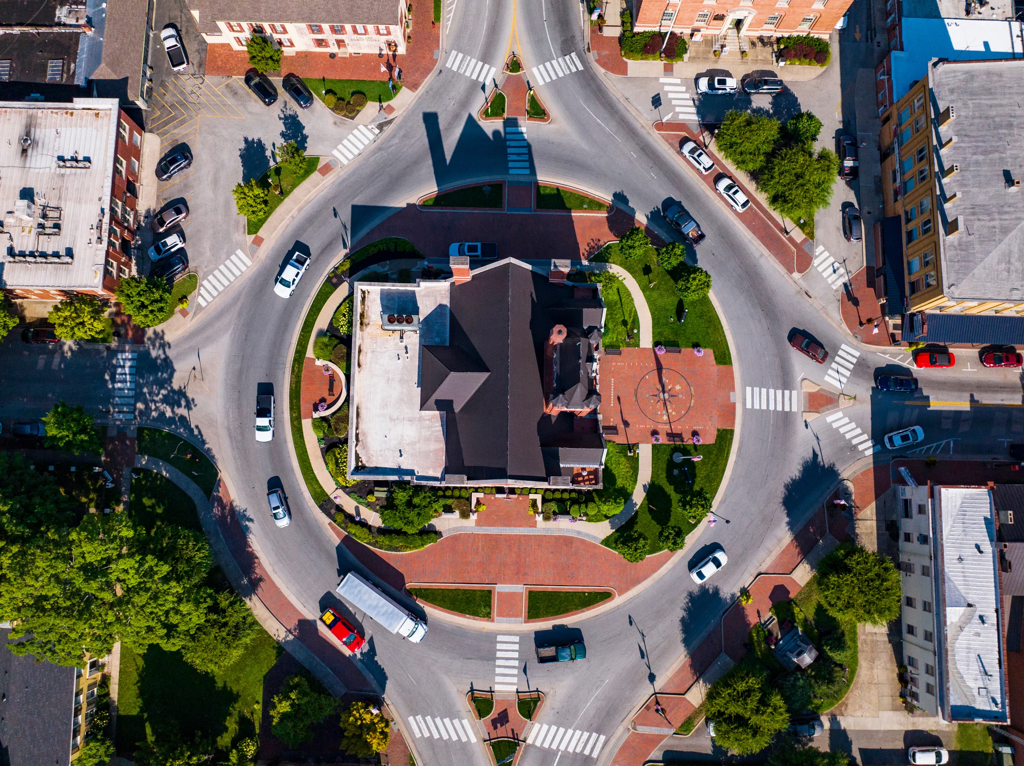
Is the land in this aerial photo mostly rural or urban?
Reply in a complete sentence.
From above, the setting appears urban.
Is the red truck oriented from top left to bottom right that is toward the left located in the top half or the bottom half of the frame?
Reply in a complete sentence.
It is in the bottom half that the red truck oriented from top left to bottom right that is toward the left appears.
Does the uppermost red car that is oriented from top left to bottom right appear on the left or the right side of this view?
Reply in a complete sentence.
You can find the uppermost red car that is oriented from top left to bottom right on the right side of the picture.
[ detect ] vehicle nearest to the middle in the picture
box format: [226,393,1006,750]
[450,240,497,260]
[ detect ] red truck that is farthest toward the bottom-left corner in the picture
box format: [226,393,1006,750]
[319,608,363,650]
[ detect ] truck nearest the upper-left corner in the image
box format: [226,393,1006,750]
[162,28,189,73]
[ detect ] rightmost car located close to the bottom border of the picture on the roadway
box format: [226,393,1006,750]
[906,745,947,766]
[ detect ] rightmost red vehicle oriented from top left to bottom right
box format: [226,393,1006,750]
[788,334,829,365]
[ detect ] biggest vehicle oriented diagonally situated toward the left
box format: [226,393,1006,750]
[336,570,429,639]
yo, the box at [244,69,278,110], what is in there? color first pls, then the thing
black car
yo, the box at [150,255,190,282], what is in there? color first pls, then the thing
black car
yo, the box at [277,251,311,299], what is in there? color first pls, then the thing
white truck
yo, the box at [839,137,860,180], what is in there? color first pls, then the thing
black truck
